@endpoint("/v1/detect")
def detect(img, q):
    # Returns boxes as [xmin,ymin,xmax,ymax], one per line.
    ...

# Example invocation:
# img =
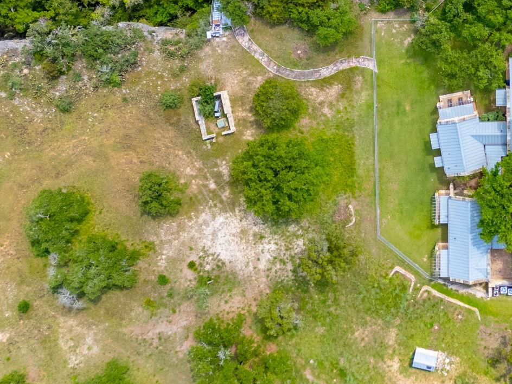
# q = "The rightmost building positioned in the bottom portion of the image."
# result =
[440,185,512,296]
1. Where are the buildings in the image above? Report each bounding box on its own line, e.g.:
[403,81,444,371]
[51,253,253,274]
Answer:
[430,98,507,177]
[440,185,512,296]
[413,340,439,377]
